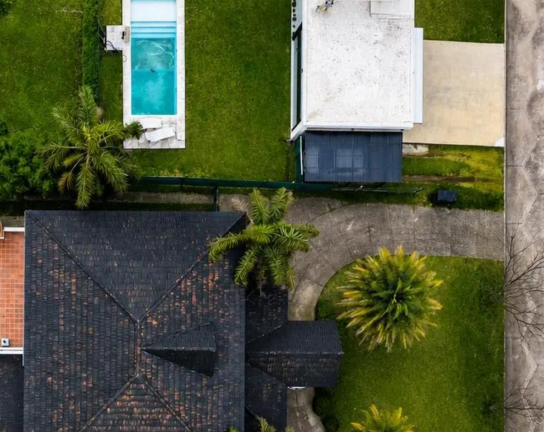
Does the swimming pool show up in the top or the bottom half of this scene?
top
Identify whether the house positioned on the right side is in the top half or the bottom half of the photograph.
top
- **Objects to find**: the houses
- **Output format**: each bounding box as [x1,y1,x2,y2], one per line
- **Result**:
[290,0,422,187]
[0,208,344,432]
